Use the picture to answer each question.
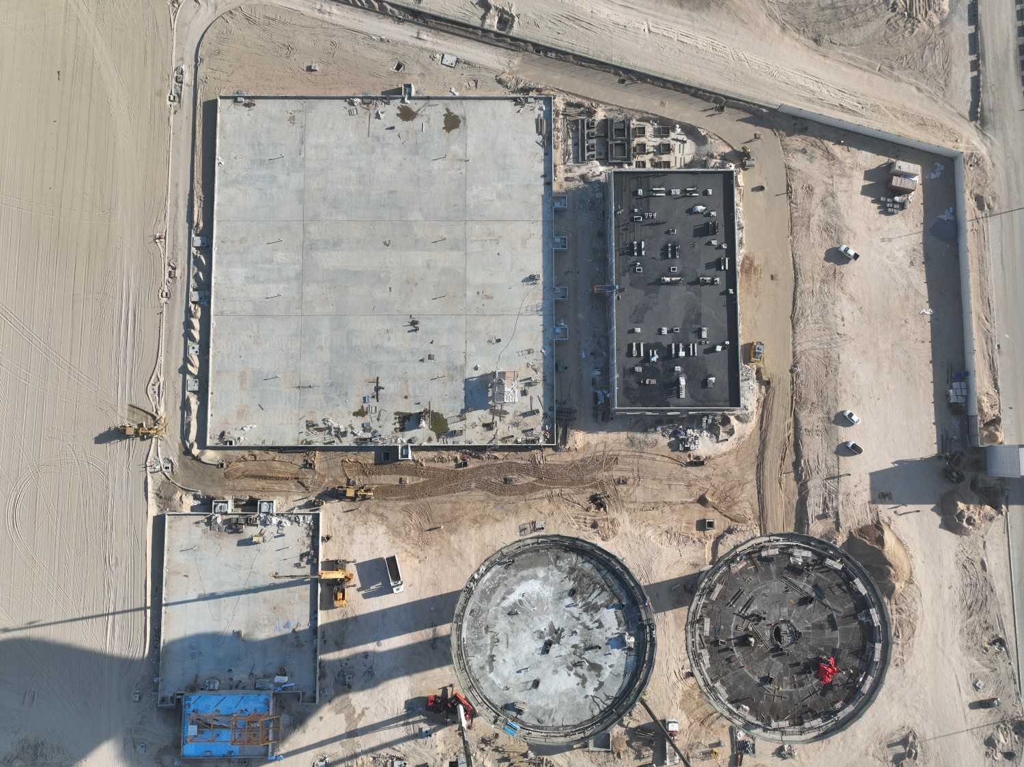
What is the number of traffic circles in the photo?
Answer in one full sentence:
There are no traffic circles in this view.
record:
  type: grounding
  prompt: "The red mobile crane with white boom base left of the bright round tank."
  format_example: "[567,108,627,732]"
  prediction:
[420,686,473,767]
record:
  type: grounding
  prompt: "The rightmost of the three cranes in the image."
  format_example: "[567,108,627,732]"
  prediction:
[636,694,690,767]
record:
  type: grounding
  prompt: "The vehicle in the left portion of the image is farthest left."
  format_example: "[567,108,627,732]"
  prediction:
[118,422,162,438]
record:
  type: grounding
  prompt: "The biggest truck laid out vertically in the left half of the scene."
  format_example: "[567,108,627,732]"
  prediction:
[383,556,404,597]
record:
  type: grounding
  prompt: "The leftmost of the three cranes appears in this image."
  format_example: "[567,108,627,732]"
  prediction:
[270,557,356,608]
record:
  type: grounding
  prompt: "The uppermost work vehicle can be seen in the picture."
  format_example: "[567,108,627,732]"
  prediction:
[743,149,755,168]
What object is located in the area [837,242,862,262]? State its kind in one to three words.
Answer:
vehicle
